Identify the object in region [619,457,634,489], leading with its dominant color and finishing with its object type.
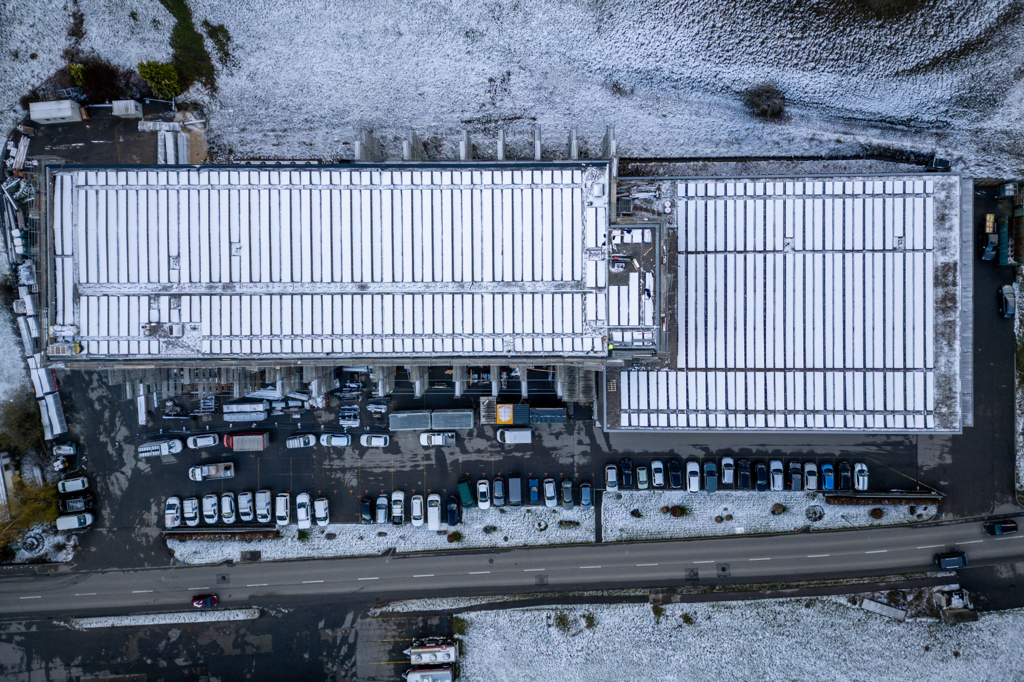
black car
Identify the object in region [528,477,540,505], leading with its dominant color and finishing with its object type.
blue vehicle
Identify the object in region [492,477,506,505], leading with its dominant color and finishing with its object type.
blue car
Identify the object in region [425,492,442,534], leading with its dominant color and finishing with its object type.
white vehicle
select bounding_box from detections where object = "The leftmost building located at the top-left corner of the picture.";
[29,99,84,125]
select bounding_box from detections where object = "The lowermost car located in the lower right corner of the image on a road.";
[934,551,966,568]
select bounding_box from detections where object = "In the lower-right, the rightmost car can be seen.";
[983,520,1017,536]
